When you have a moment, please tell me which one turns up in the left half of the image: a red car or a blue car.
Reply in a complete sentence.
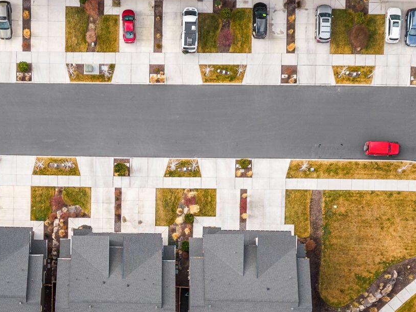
The one visible in the left half of the image is a red car.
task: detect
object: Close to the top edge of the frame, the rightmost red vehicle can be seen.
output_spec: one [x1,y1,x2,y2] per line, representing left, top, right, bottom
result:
[121,9,137,45]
